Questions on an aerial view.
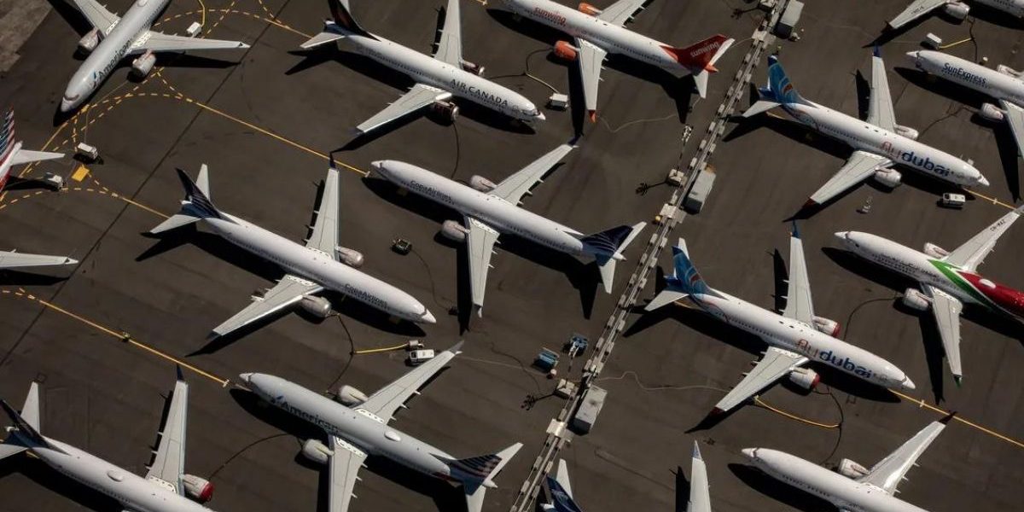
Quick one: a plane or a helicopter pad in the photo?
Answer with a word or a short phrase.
plane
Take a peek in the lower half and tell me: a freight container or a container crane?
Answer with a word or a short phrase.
freight container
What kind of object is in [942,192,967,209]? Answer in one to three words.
vehicle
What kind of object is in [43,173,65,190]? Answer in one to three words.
work vehicle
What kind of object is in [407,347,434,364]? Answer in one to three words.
vehicle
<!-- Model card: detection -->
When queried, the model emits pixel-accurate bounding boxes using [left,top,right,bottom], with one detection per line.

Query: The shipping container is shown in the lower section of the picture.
[574,385,608,434]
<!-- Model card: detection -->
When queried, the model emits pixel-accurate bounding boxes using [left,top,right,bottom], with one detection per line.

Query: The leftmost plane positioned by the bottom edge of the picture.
[0,364,218,512]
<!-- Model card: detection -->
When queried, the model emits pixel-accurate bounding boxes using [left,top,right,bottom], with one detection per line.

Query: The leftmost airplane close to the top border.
[61,0,248,111]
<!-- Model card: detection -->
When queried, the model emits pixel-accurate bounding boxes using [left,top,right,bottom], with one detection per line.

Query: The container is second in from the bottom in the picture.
[685,171,716,211]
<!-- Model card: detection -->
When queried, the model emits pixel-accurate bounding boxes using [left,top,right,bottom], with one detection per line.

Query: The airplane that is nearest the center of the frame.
[371,132,646,317]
